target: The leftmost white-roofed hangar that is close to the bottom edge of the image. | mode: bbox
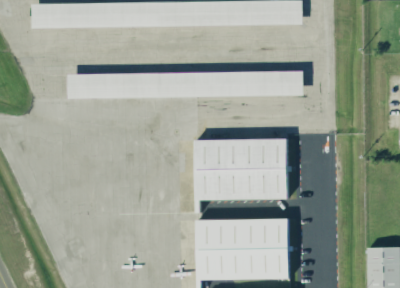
[196,218,294,288]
